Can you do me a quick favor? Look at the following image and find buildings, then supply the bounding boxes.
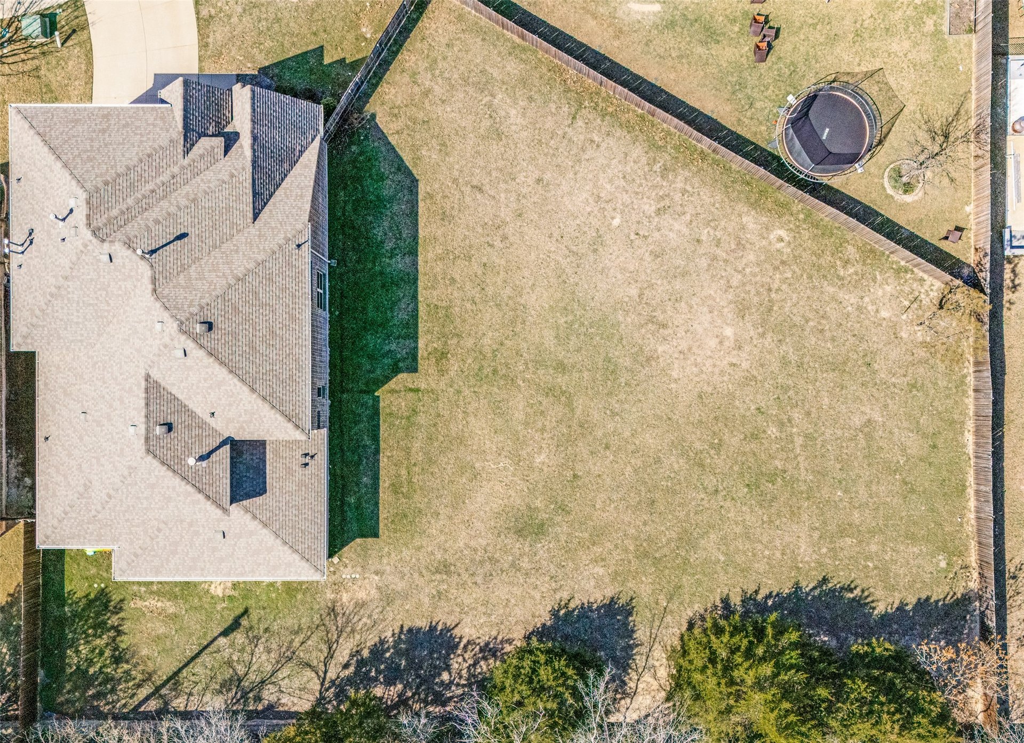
[4,78,335,583]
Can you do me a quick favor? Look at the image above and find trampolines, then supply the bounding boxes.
[769,81,887,183]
